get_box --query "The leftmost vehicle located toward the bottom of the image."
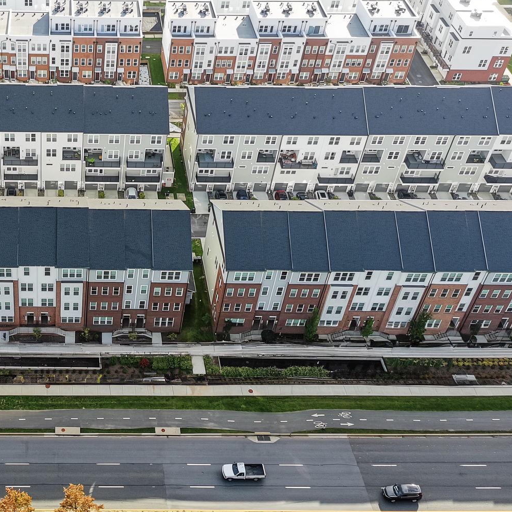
[222,462,268,481]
